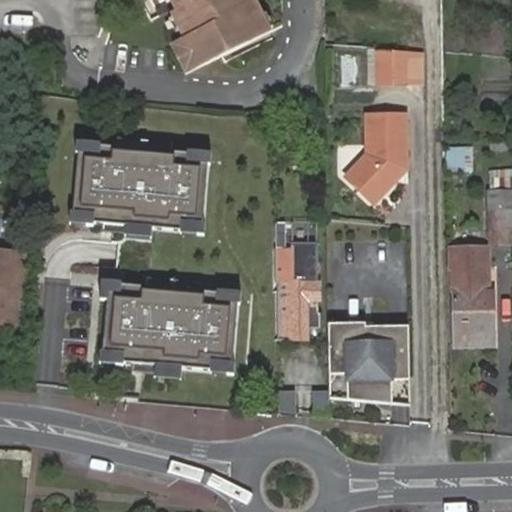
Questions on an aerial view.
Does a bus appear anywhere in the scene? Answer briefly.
Yes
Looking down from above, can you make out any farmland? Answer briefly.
No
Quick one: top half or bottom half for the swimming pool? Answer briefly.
top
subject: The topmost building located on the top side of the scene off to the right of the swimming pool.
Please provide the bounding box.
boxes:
[376,50,424,87]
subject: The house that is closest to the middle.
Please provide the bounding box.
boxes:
[276,222,322,342]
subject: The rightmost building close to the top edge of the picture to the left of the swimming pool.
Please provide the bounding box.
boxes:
[157,0,282,76]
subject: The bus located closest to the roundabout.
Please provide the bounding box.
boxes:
[168,460,255,506]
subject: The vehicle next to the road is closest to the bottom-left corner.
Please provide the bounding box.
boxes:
[90,460,115,472]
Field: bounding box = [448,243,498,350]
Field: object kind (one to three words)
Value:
house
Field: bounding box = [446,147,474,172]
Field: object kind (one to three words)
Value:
shed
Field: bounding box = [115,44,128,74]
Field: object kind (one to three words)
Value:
vehicle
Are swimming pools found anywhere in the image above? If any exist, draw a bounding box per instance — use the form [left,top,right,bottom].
[340,54,360,88]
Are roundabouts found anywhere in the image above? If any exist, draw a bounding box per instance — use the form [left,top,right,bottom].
[261,458,319,512]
